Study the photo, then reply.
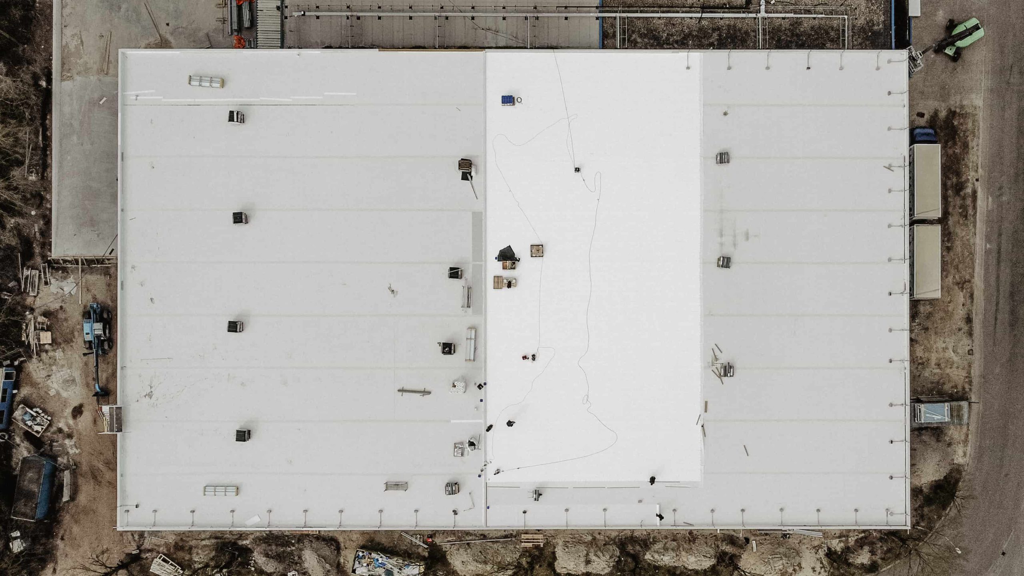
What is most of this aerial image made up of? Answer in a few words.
buildings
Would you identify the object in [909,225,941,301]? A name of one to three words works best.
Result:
trailer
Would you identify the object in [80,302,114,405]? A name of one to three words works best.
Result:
work vehicle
